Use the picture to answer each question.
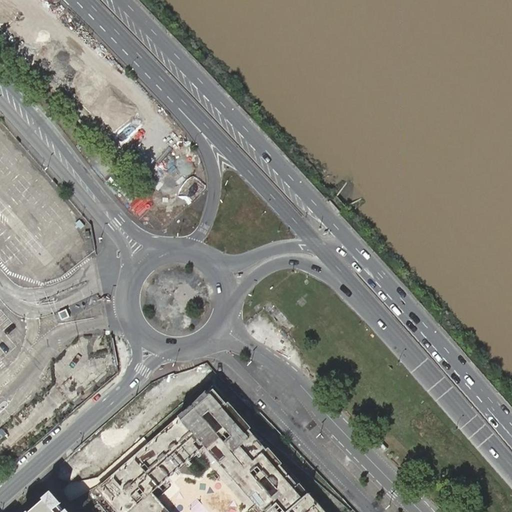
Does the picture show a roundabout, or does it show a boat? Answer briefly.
roundabout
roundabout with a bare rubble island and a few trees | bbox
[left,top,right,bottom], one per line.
[118,242,234,358]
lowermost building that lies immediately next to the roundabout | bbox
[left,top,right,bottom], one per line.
[90,389,325,512]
